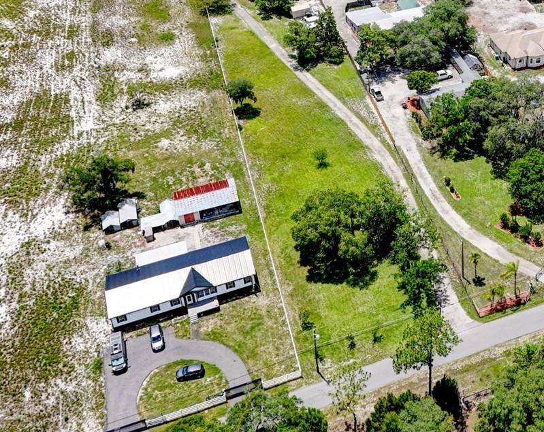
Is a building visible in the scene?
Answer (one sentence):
Yes, you can see a building in this photo.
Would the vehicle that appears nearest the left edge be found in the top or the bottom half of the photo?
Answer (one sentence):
Seen from above, the vehicle that appears nearest the left edge lies in the bottom half of the view.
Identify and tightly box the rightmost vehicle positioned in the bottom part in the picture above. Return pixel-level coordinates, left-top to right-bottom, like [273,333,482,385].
[174,361,208,382]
